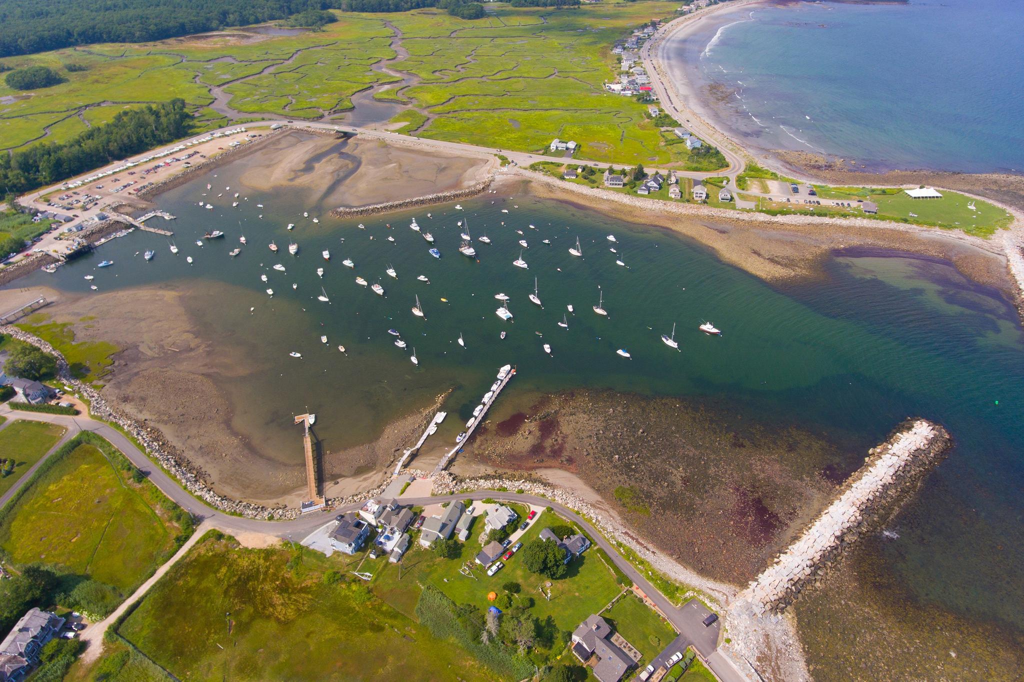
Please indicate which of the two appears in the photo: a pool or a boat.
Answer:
boat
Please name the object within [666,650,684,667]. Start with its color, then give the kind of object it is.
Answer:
white vehicle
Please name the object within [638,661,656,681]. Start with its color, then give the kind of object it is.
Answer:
white vehicle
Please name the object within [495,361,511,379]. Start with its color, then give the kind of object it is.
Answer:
white boat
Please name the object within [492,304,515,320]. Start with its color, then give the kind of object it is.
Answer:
white boat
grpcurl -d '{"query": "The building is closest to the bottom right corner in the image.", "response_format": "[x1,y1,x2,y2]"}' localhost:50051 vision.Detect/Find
[570,614,639,682]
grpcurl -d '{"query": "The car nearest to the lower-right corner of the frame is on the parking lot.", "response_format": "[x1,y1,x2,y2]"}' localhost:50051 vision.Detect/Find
[703,610,719,625]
